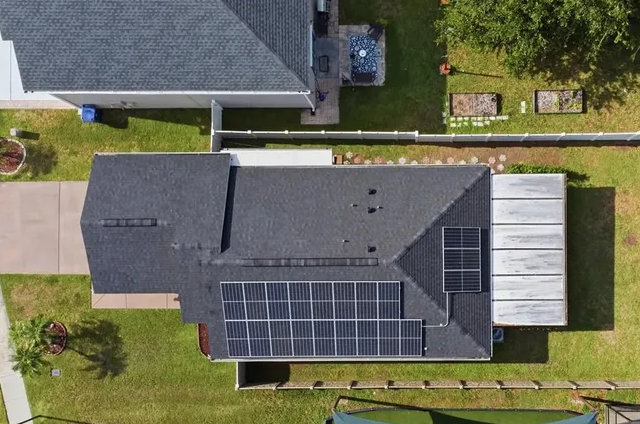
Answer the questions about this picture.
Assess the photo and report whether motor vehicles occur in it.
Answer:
No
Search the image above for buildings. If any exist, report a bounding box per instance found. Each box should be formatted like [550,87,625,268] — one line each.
[0,0,317,118]
[79,151,494,364]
